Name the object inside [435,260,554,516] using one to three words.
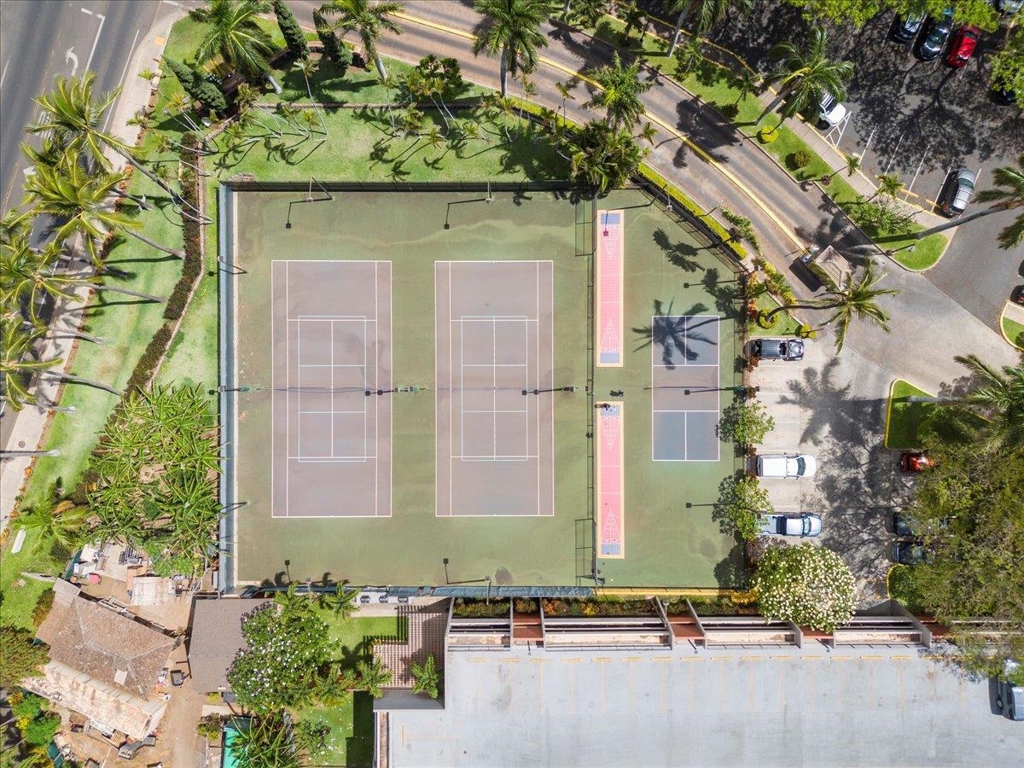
tennis court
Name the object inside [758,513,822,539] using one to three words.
truck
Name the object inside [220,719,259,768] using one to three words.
swimming pool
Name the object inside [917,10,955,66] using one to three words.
car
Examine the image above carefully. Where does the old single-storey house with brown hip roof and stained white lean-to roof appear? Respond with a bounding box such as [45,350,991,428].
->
[20,574,176,739]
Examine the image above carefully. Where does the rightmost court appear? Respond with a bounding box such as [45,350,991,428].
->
[652,316,720,462]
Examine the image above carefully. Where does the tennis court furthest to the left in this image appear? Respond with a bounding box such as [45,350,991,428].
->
[271,260,392,518]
